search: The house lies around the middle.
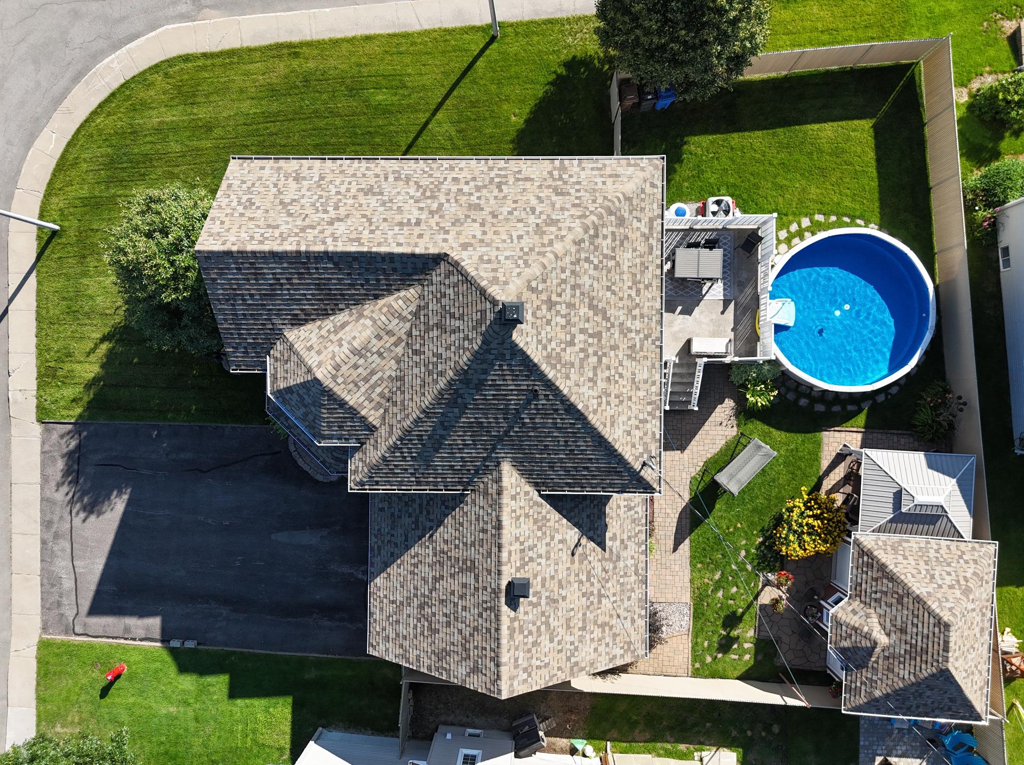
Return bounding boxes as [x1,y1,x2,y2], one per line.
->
[197,152,670,701]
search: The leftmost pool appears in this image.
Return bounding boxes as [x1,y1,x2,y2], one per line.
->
[764,225,938,394]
